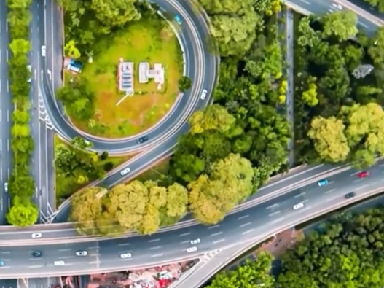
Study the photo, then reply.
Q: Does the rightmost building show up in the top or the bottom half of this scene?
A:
top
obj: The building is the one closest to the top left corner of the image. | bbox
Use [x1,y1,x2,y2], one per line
[118,58,134,92]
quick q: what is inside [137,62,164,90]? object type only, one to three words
building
